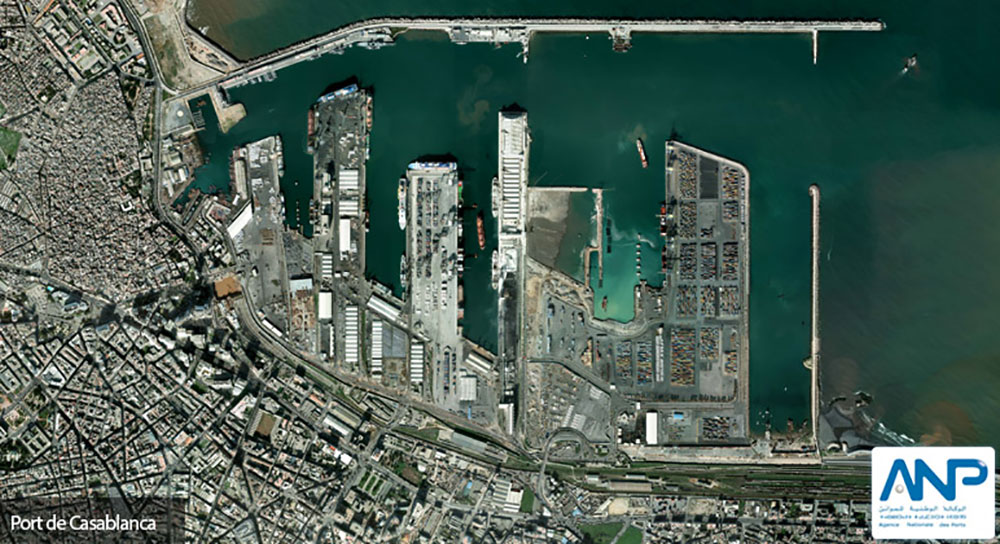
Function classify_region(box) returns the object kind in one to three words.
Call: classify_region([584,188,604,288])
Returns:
pier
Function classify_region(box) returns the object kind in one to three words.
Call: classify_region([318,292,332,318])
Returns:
building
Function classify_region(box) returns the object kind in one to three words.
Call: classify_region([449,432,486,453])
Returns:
building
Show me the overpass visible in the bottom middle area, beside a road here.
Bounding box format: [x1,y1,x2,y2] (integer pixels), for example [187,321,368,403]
[538,427,612,508]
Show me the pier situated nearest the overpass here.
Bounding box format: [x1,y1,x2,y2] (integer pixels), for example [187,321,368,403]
[499,111,530,434]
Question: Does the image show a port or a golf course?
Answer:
port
